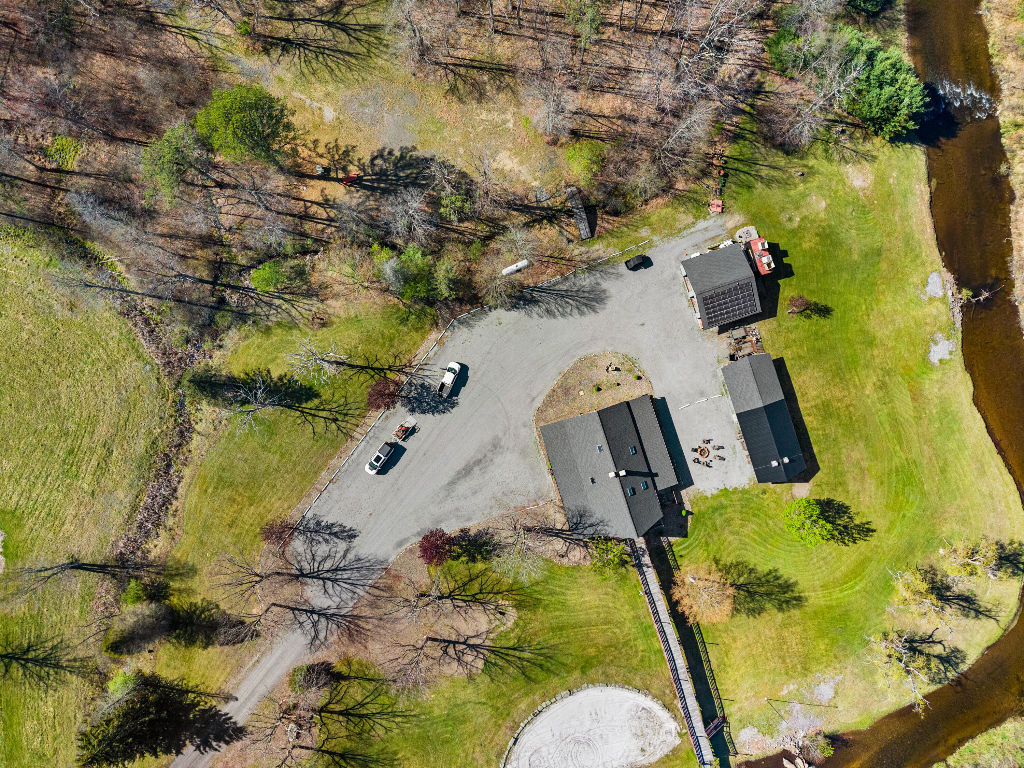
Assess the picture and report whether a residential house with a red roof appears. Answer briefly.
No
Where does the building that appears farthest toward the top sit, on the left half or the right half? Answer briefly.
right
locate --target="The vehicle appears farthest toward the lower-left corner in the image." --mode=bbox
[365,441,394,475]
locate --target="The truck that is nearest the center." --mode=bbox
[435,360,457,399]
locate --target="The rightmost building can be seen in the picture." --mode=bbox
[721,353,807,483]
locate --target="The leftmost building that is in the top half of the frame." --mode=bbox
[678,242,761,331]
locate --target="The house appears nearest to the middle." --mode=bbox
[539,394,681,539]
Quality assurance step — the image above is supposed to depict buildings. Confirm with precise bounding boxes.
[678,242,761,331]
[721,353,807,483]
[539,394,681,539]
